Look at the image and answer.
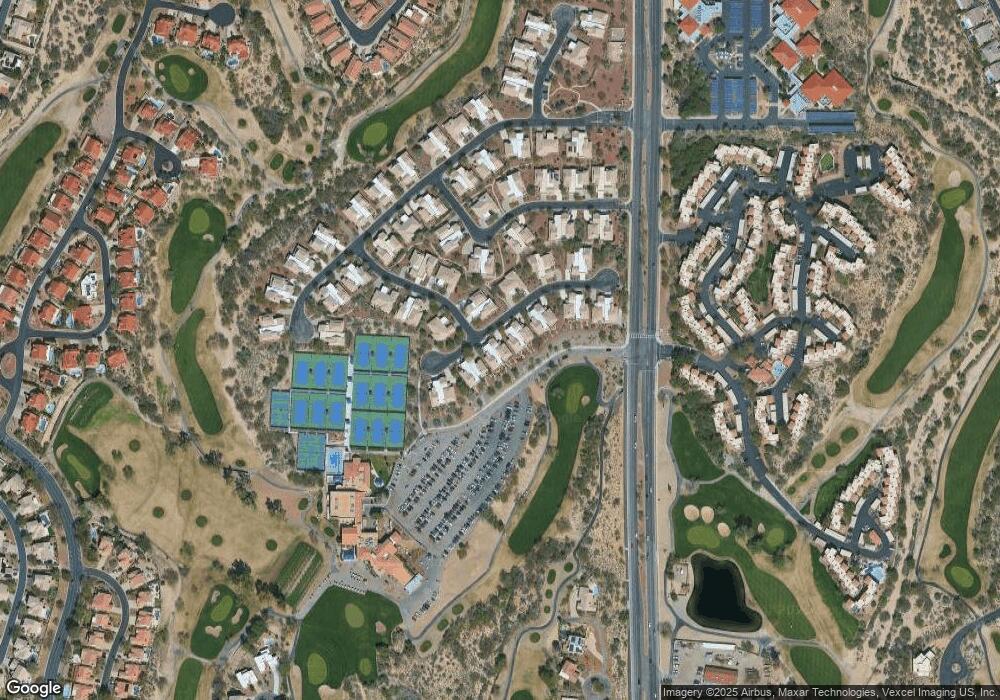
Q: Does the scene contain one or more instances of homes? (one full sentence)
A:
Yes, looking at the shot, I can spot a home.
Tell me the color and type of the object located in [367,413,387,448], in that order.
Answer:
blue tennis court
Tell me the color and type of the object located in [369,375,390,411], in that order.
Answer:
blue tennis court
